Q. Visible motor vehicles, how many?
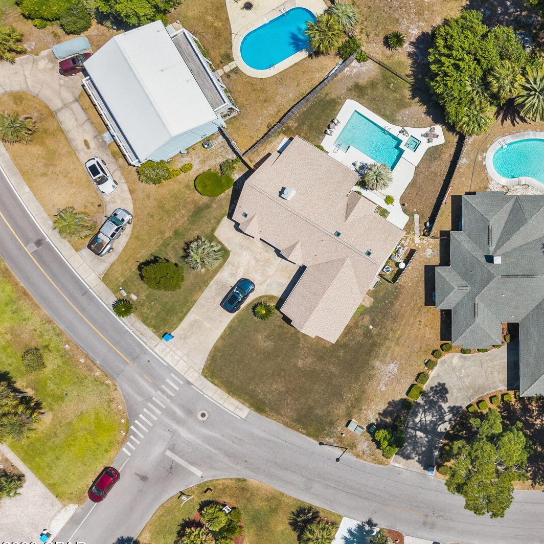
five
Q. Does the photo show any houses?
Yes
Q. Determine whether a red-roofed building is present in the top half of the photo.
No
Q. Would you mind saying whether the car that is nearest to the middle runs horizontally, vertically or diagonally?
diagonally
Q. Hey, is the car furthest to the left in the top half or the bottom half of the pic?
top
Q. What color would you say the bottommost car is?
red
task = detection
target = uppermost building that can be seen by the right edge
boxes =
[435,191,544,397]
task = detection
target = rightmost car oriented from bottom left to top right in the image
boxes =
[220,277,256,315]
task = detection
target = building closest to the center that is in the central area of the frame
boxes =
[232,135,406,344]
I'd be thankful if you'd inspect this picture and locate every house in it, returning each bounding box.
[232,135,406,344]
[78,19,238,167]
[435,191,544,397]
